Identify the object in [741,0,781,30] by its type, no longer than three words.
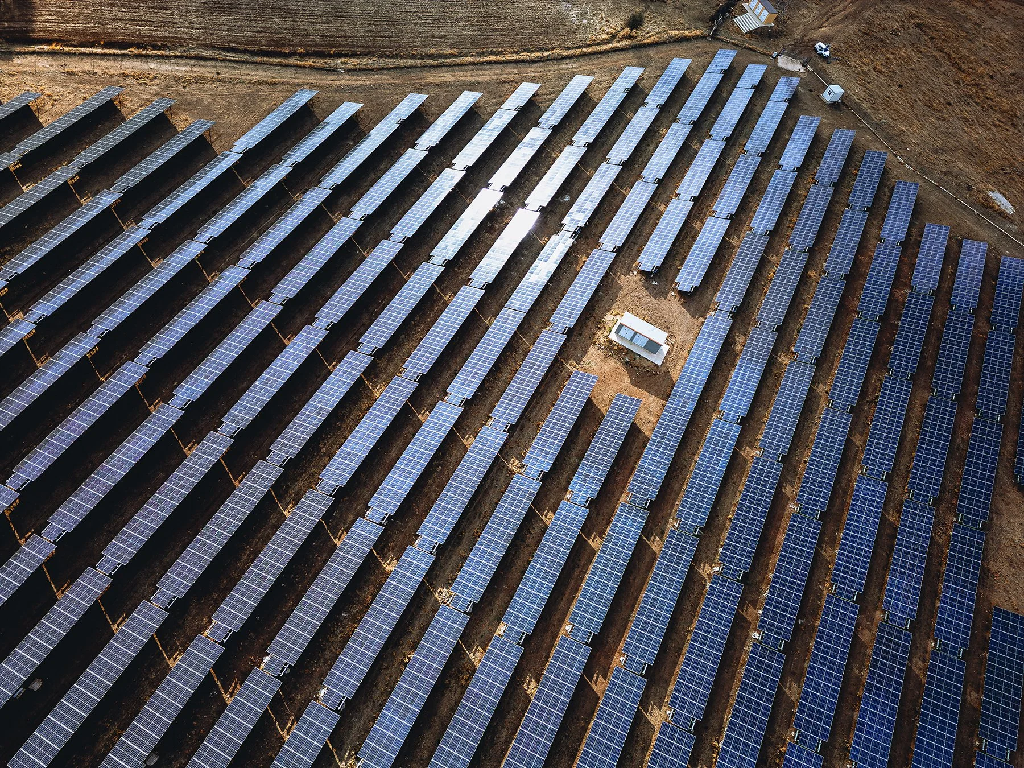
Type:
house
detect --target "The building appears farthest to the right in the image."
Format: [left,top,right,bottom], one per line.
[820,84,850,104]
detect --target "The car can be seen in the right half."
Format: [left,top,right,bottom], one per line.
[815,42,832,57]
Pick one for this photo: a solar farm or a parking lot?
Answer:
solar farm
